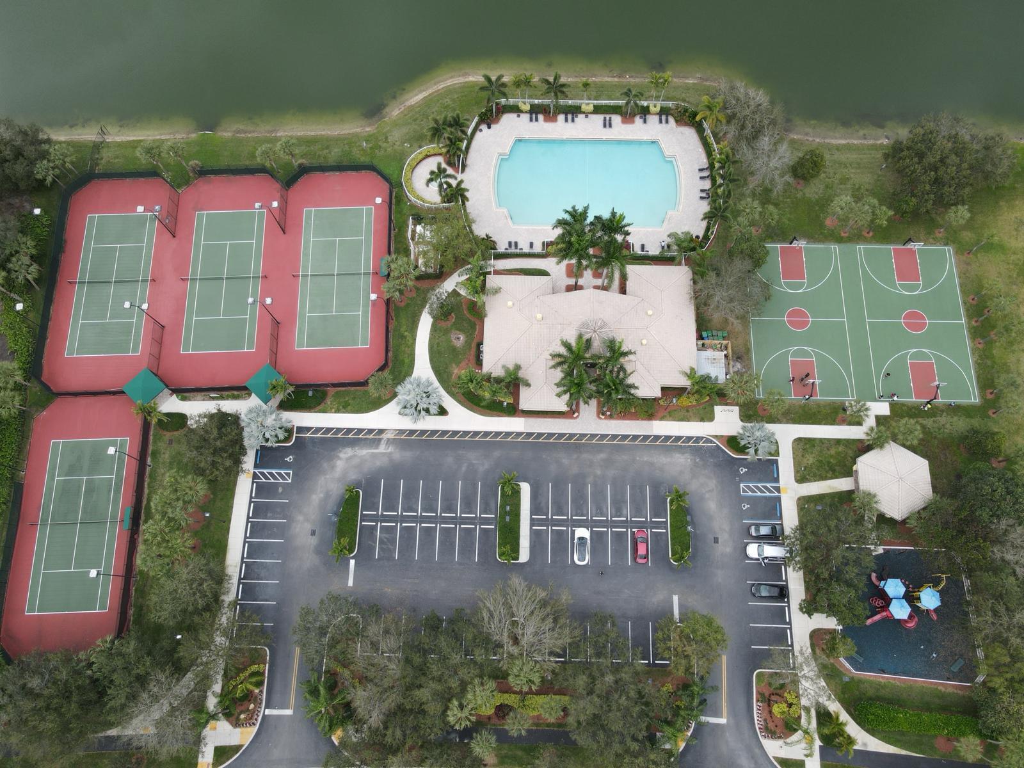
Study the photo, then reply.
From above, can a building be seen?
Yes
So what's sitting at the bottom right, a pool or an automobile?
automobile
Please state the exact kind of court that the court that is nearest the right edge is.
basketball court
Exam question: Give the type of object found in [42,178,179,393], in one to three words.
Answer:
tennis court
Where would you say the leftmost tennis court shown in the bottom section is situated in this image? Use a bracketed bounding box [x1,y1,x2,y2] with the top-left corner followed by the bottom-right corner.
[0,394,149,662]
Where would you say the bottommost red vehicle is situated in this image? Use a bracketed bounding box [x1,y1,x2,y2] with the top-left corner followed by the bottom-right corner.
[633,529,649,564]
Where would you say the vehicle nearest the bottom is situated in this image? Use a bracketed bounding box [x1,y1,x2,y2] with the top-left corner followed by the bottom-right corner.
[750,582,788,600]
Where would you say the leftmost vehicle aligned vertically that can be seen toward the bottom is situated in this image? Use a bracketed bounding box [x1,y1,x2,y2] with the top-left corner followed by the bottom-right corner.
[573,528,590,565]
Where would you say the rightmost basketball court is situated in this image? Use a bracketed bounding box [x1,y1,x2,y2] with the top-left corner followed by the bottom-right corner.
[846,242,982,406]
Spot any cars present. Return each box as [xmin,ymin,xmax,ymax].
[747,522,783,539]
[573,528,590,565]
[744,543,786,567]
[633,529,649,564]
[750,582,788,600]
